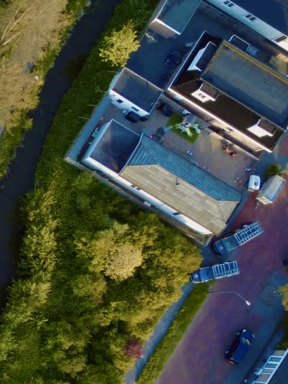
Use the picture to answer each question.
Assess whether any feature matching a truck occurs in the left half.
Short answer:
No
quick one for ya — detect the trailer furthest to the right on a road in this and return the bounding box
[253,173,288,212]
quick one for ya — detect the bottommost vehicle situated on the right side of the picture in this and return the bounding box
[222,326,254,366]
